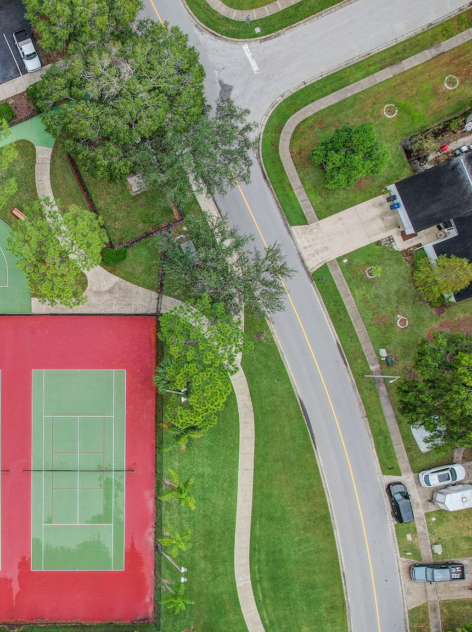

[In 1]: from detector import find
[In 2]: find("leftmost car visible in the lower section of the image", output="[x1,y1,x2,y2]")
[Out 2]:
[383,482,414,524]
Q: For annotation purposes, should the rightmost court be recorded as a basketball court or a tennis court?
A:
tennis court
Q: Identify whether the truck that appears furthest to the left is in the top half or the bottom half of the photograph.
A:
top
